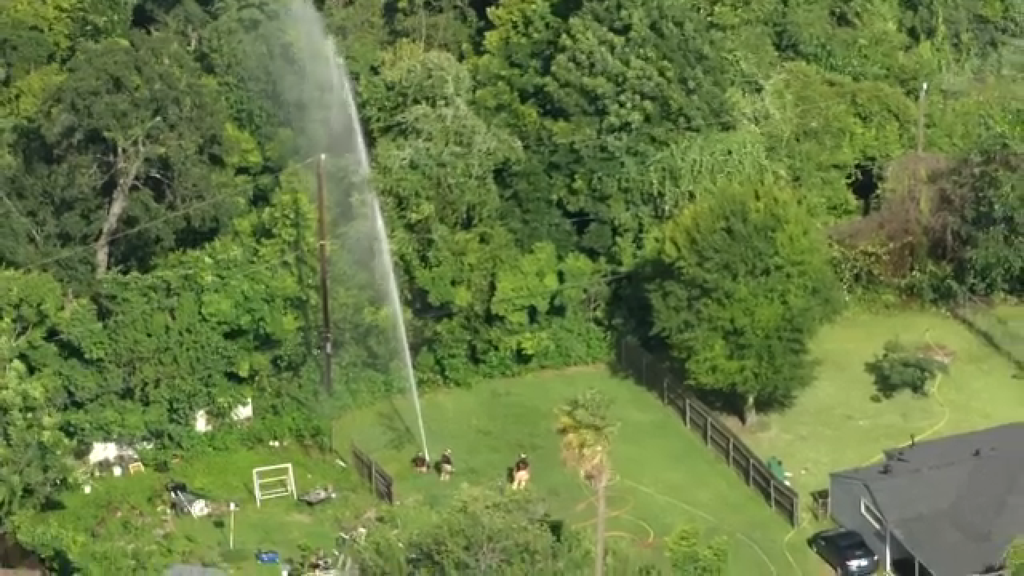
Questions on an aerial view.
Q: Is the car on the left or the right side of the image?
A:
right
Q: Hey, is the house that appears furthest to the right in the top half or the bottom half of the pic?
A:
bottom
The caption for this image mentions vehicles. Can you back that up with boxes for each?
[808,527,879,576]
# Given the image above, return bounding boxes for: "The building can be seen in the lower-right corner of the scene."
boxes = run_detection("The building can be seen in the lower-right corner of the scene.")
[823,414,1024,576]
